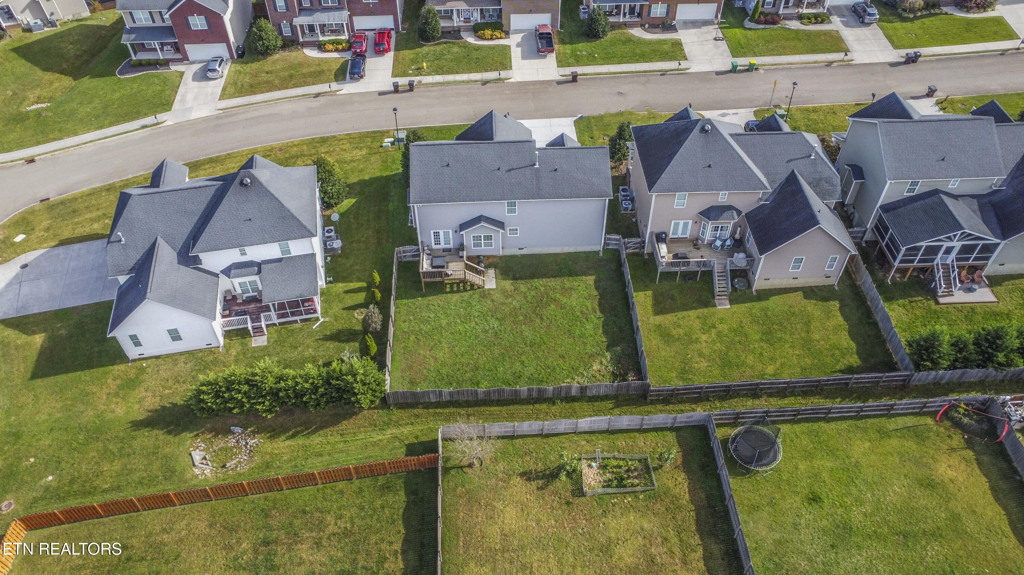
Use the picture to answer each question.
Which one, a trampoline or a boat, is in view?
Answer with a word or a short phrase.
trampoline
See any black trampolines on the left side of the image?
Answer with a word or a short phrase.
No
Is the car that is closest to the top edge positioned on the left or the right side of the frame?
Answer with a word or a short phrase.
right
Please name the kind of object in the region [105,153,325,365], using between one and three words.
house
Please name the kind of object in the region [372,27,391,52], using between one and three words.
car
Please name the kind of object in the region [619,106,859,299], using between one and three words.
house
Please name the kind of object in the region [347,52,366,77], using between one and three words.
car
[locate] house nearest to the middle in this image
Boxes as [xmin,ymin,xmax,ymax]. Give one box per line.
[403,106,613,291]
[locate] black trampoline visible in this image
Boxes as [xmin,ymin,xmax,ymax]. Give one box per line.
[729,414,790,476]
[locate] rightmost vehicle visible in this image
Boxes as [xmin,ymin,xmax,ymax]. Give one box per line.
[853,0,880,21]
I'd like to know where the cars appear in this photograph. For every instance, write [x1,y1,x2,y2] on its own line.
[740,113,762,131]
[372,27,391,52]
[853,0,880,21]
[350,28,367,52]
[347,52,366,77]
[203,52,228,76]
